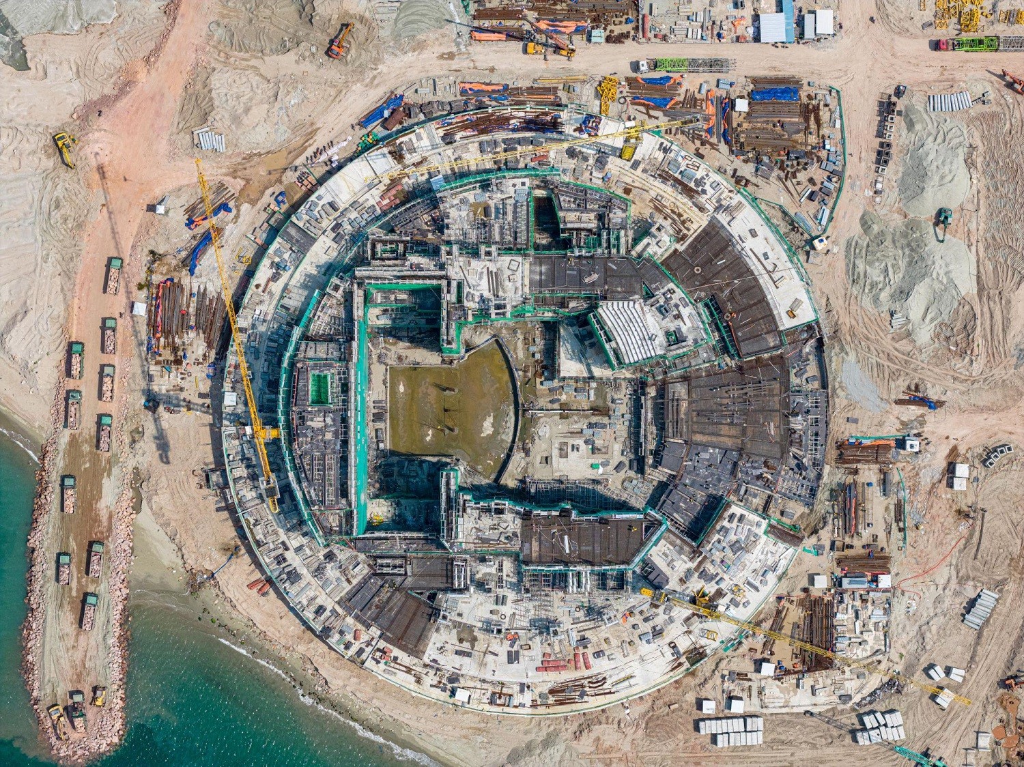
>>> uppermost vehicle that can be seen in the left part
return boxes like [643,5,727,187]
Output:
[324,22,354,61]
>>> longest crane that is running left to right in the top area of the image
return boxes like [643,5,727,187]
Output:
[364,112,712,181]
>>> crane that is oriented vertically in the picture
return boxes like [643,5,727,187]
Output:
[194,159,282,514]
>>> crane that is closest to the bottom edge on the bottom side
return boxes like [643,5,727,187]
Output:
[893,745,951,767]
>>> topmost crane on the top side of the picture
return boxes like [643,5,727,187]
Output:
[516,13,577,64]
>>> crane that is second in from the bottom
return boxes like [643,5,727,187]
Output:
[638,579,971,705]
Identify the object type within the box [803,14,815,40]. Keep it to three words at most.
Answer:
building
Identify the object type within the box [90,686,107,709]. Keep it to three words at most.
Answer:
work vehicle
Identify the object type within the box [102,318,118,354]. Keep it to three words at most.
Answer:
vehicle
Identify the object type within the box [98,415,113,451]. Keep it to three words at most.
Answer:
vehicle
